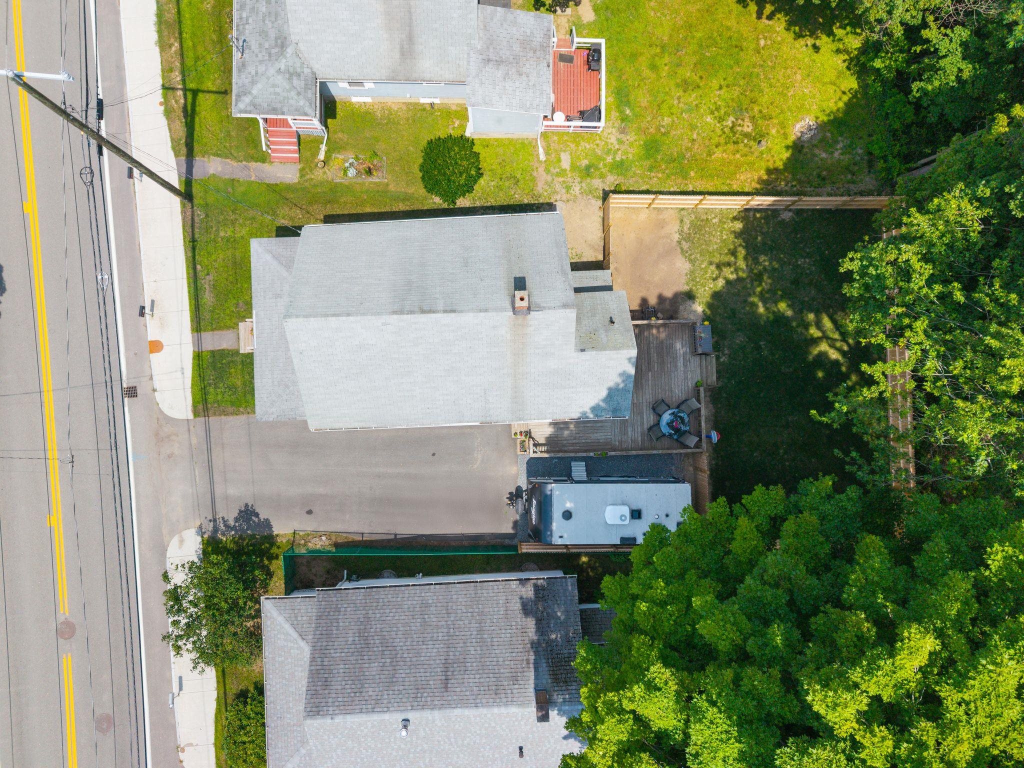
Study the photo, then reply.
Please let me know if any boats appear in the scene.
No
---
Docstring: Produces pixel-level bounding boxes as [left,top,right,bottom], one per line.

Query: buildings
[261,570,630,768]
[218,0,554,159]
[249,210,636,433]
